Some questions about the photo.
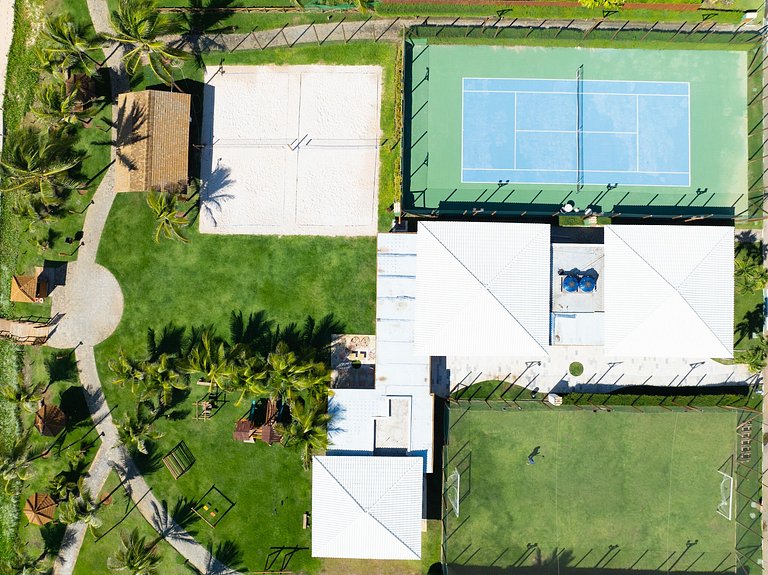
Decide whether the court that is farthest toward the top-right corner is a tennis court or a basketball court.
tennis court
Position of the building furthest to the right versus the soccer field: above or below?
above it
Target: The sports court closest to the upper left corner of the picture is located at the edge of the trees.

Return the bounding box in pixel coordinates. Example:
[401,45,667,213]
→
[200,65,382,236]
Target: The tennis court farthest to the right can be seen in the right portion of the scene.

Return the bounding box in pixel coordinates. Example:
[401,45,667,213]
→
[404,39,748,218]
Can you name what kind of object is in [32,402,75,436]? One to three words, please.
gazebo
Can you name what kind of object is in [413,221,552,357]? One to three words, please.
building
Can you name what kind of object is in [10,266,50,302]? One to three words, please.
shed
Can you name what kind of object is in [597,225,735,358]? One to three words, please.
building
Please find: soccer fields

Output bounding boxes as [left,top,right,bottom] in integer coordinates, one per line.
[442,399,736,575]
